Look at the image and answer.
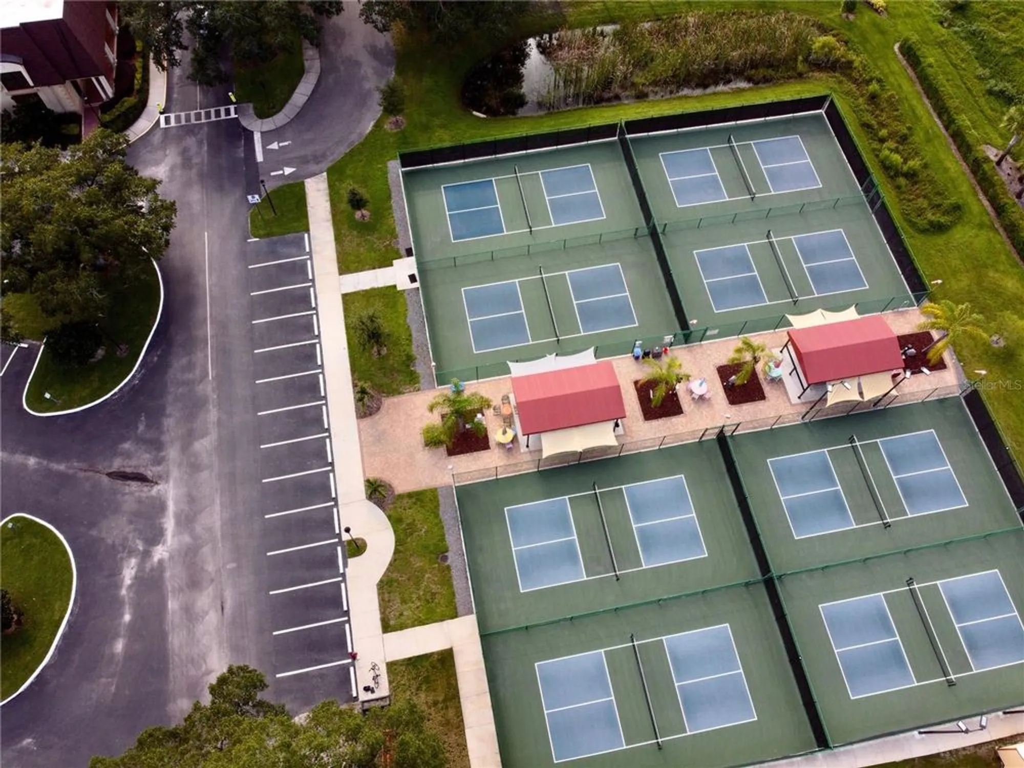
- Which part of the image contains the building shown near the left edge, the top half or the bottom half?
top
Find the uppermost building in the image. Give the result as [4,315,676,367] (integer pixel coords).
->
[0,0,117,112]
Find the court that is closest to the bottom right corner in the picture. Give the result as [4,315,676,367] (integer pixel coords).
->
[763,529,1024,750]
